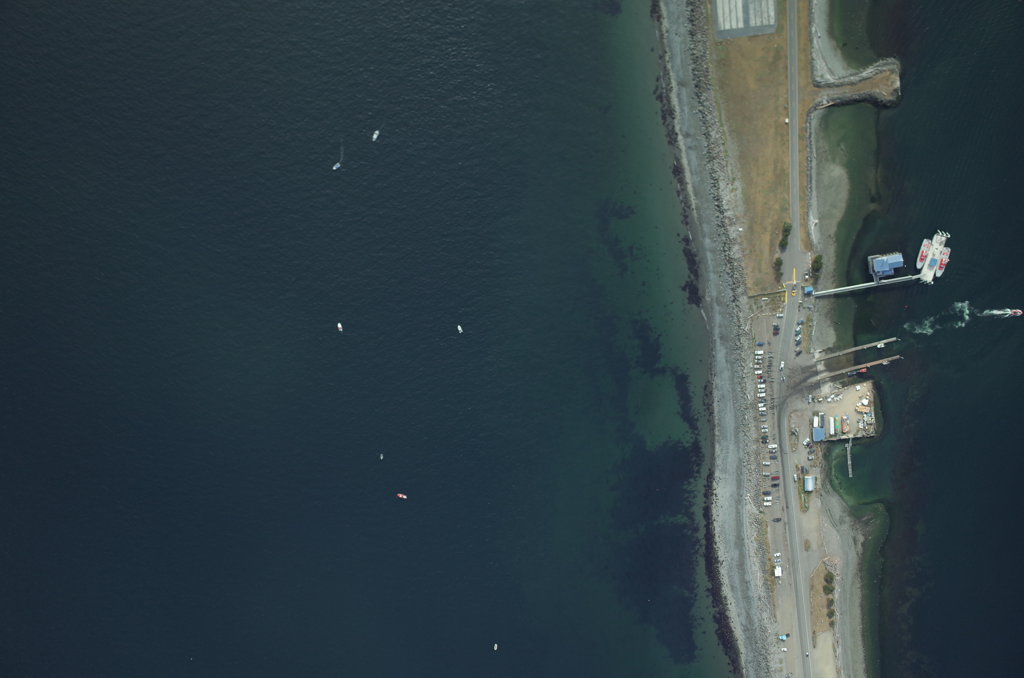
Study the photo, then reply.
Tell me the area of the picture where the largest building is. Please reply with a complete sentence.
You can find the largest building in the right area of the picture.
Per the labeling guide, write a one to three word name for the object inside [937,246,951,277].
boat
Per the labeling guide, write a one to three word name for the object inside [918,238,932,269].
boat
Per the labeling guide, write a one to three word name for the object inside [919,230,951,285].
ship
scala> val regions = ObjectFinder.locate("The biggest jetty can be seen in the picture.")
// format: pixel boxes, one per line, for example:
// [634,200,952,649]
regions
[814,276,913,297]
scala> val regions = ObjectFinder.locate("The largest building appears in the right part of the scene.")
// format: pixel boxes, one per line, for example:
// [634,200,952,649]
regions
[867,251,904,283]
